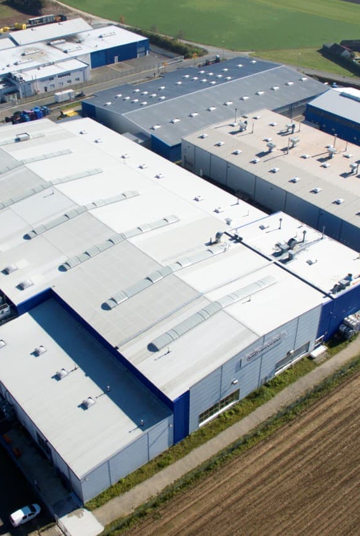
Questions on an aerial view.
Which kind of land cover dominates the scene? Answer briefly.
buildings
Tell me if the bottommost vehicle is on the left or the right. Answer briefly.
left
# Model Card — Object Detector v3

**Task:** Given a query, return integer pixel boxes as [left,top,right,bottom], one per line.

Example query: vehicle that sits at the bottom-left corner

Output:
[5,500,45,528]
